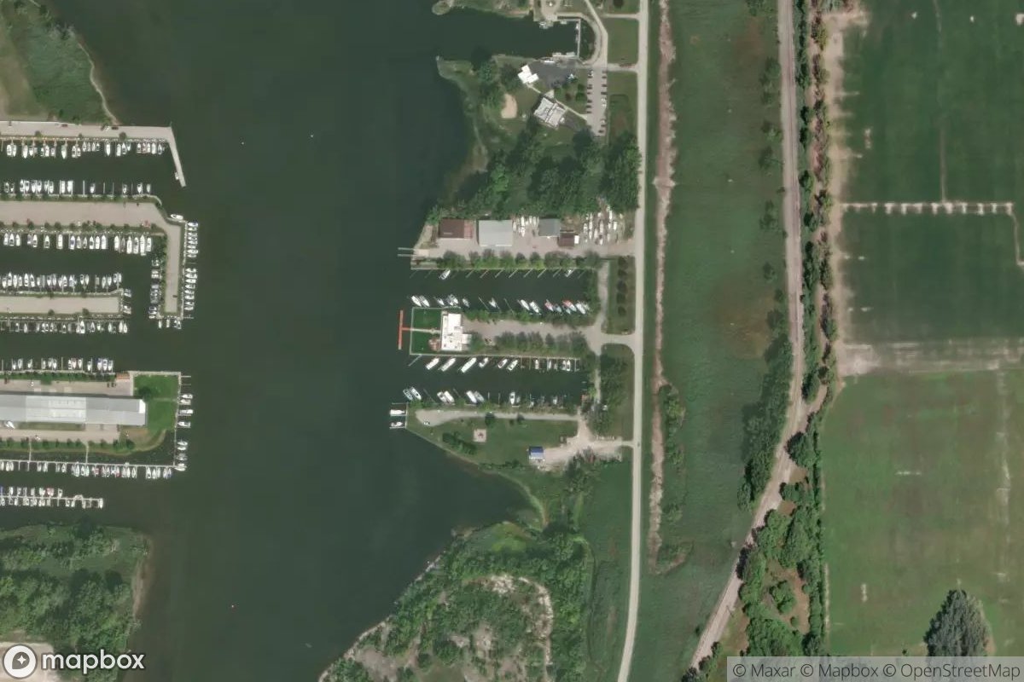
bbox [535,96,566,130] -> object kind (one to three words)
building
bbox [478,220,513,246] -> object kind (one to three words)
building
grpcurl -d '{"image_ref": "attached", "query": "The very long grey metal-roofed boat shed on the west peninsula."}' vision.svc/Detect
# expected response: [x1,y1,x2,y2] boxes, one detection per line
[0,394,147,429]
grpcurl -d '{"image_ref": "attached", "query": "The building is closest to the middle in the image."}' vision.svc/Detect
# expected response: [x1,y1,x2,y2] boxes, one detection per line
[441,313,471,351]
